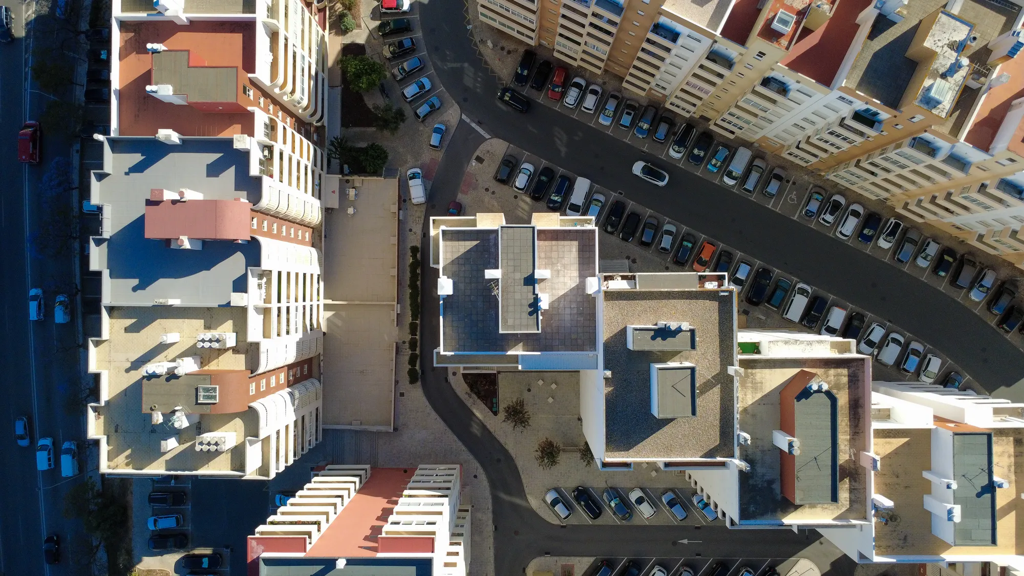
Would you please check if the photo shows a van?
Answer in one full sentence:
Yes, the picture does show a van.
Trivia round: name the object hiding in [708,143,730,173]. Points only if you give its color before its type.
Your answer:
blue car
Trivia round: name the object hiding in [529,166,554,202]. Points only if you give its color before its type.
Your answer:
black car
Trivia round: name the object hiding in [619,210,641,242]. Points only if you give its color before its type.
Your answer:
black car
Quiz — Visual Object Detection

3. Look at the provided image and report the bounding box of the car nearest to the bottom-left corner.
[42,533,62,565]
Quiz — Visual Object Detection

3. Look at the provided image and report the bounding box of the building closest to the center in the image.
[431,213,598,369]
